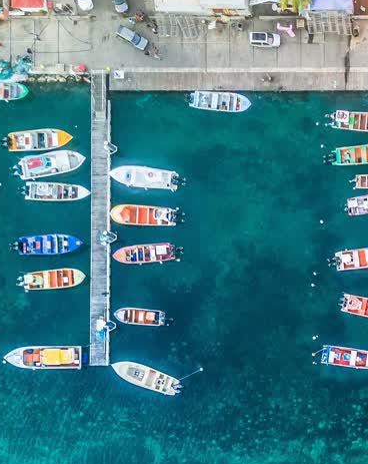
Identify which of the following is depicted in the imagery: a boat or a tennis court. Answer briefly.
boat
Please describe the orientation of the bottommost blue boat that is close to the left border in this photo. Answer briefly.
horizontally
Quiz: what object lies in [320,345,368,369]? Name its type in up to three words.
boat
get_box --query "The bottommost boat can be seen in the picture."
[110,362,201,396]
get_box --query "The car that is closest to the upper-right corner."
[250,30,281,49]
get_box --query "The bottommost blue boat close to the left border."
[12,233,89,254]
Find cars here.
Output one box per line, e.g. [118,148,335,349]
[116,24,150,51]
[78,0,95,12]
[250,30,281,49]
[111,0,131,15]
